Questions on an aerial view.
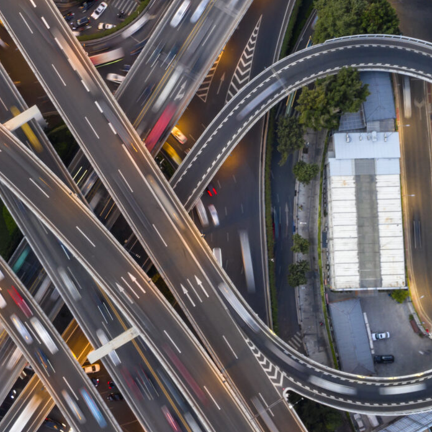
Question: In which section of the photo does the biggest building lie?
right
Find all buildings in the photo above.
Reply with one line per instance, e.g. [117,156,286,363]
[323,160,409,290]
[324,299,374,374]
[357,71,395,122]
